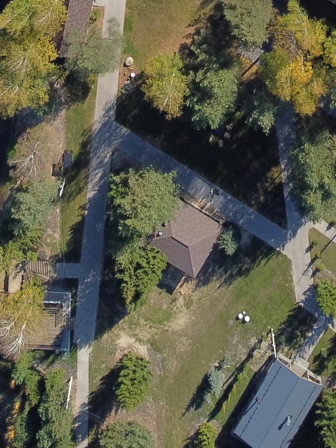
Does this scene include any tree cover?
Yes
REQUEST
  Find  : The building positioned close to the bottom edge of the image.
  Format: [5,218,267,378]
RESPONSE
[232,336,323,448]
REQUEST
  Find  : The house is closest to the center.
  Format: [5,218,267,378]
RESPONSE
[144,200,223,295]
